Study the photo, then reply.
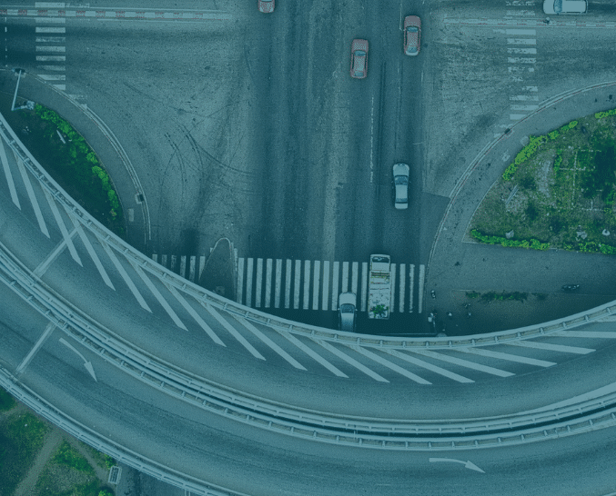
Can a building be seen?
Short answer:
No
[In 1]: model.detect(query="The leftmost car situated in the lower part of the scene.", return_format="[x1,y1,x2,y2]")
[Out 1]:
[338,297,357,331]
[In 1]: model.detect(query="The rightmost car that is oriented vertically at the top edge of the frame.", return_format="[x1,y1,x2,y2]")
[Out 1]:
[403,15,423,56]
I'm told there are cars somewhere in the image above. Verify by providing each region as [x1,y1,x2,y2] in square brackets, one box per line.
[338,297,357,331]
[349,39,369,79]
[403,15,423,56]
[259,0,275,14]
[544,0,588,16]
[391,165,413,209]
